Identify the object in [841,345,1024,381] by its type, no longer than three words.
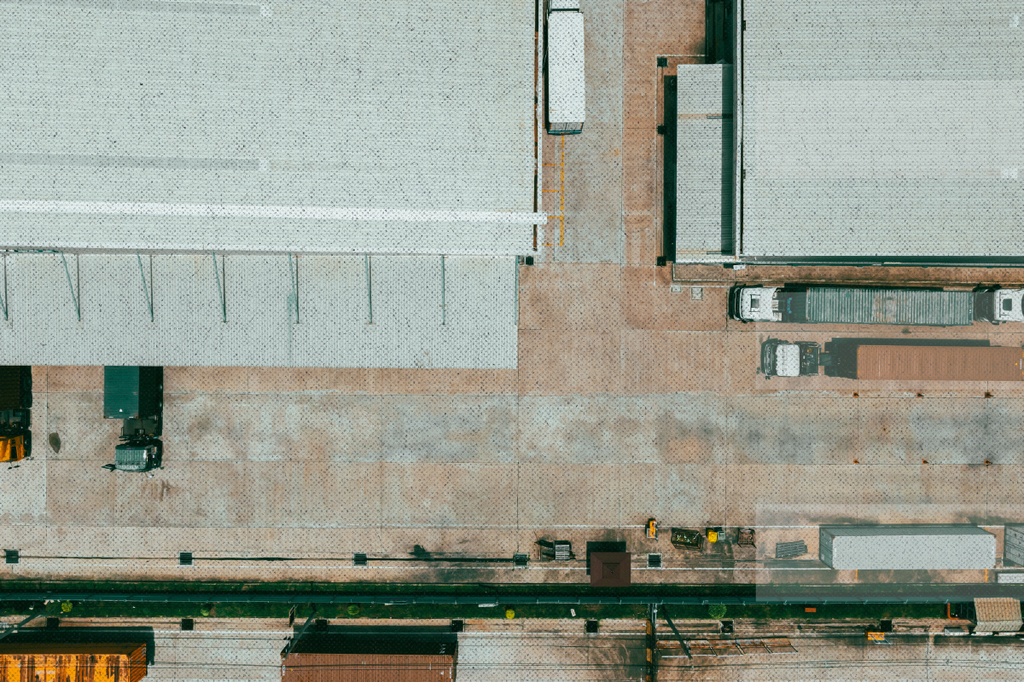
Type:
shipping container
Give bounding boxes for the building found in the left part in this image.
[0,0,547,370]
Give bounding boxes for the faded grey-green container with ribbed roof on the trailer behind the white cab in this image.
[791,288,974,326]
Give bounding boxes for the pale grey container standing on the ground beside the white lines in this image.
[819,528,995,569]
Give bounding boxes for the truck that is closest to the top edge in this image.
[547,0,585,139]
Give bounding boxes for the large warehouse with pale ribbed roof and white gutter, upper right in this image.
[707,0,1024,270]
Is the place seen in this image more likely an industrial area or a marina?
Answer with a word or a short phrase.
industrial area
